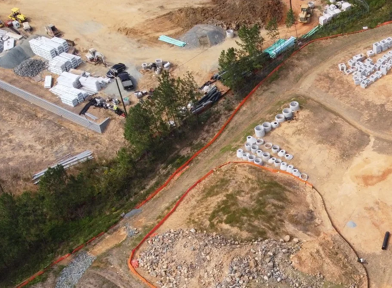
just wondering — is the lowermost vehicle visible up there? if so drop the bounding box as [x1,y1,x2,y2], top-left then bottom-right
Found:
[116,69,134,86]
